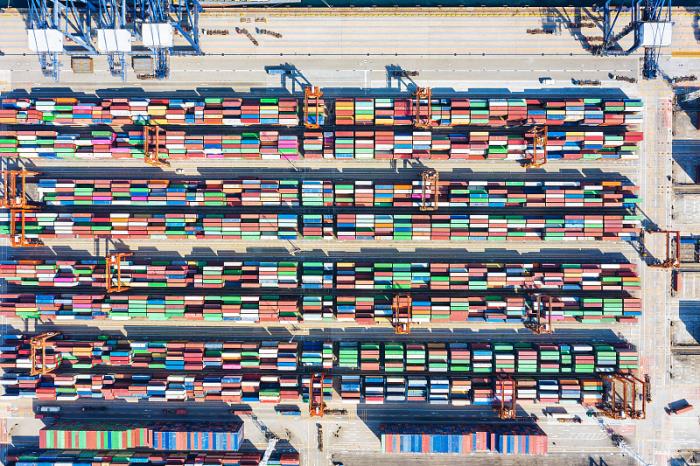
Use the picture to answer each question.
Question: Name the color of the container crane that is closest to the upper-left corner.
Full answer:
The container crane that is closest to the upper-left corner is white.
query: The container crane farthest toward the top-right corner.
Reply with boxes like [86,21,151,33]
[598,0,679,84]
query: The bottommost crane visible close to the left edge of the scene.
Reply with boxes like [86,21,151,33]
[29,330,66,376]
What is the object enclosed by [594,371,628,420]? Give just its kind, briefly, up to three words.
crane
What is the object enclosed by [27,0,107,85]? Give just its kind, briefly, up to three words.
container crane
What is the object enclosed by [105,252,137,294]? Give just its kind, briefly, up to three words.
crane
